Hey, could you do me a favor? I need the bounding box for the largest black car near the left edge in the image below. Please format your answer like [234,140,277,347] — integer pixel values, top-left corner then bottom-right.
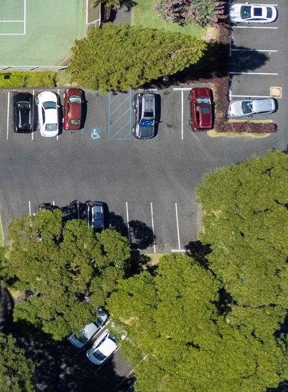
[11,93,35,134]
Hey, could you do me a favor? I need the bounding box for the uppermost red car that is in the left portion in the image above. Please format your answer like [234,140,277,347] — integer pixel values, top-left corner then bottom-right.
[61,88,85,130]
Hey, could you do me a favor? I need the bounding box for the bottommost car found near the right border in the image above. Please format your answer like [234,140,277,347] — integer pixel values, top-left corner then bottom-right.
[226,97,275,117]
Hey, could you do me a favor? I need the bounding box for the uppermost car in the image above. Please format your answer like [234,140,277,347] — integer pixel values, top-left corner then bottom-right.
[228,2,276,23]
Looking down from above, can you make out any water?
No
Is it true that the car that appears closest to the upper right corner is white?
Yes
